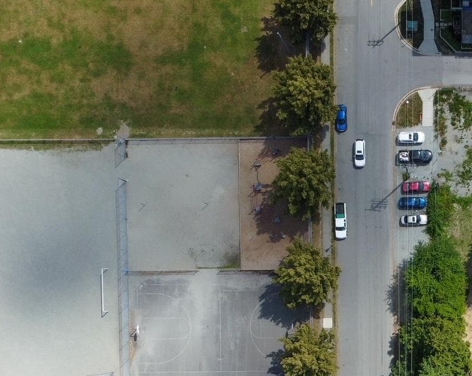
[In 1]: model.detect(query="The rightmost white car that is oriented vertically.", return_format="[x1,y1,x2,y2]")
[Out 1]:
[353,140,366,168]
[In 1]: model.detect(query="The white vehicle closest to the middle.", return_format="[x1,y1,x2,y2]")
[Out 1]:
[334,203,347,239]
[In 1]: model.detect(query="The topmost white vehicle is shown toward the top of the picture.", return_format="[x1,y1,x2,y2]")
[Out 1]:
[397,130,426,144]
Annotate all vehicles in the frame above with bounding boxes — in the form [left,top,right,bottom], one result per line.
[399,197,427,209]
[353,140,366,168]
[335,105,347,132]
[400,180,430,193]
[334,203,347,239]
[399,214,427,226]
[397,149,431,164]
[397,130,426,144]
